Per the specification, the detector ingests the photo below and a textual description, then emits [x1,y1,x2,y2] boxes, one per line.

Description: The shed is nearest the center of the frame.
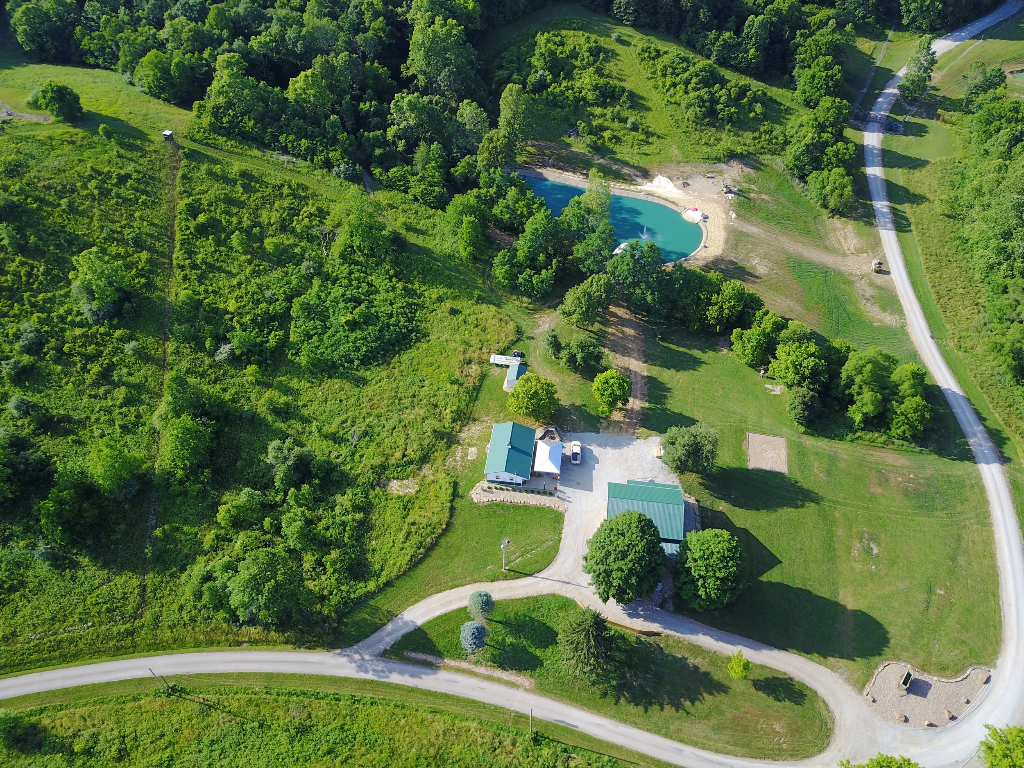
[507,363,527,388]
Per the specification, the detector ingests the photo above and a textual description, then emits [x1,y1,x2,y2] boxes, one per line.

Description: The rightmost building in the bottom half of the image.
[606,481,684,568]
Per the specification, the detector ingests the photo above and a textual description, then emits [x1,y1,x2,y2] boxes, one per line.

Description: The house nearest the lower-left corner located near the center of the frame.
[483,421,537,485]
